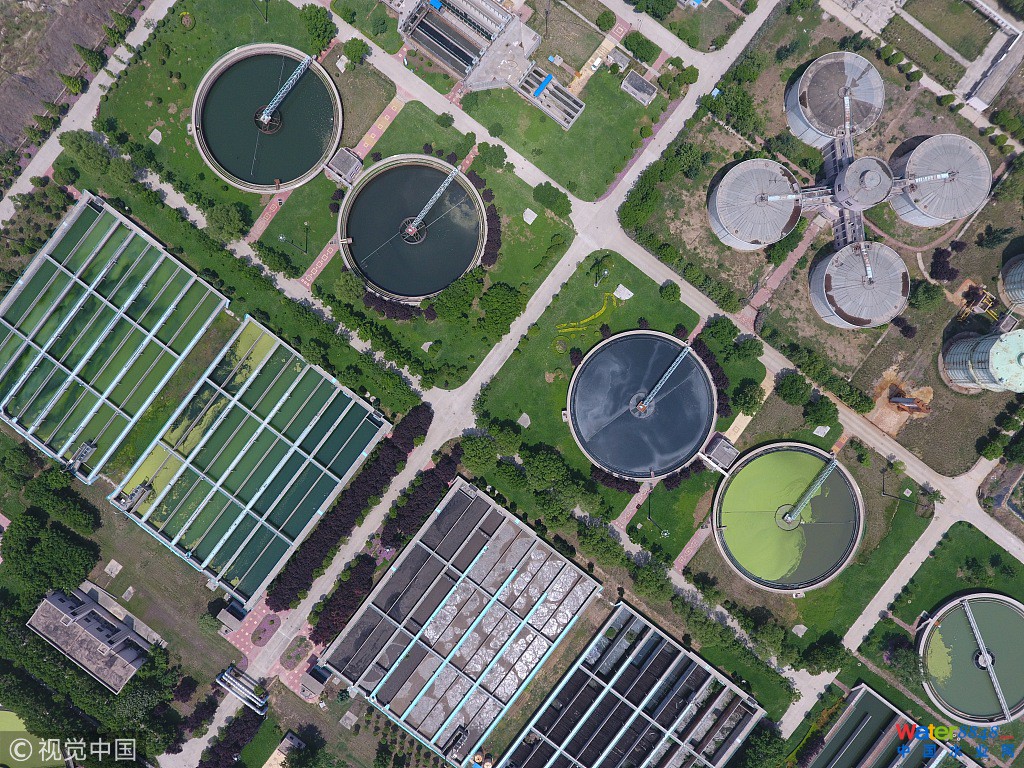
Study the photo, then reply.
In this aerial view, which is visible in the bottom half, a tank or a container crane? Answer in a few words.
tank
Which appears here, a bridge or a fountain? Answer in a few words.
bridge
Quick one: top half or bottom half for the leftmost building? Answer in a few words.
bottom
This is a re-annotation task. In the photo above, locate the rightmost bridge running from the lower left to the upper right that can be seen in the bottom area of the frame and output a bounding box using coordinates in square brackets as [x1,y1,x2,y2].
[777,454,839,522]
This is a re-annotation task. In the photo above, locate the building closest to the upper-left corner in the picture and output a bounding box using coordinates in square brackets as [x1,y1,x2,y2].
[330,148,364,183]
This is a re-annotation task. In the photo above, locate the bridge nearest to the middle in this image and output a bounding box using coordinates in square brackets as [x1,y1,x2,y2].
[634,343,693,412]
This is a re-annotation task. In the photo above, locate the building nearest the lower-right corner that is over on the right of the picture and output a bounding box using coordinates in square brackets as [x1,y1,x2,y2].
[706,439,740,468]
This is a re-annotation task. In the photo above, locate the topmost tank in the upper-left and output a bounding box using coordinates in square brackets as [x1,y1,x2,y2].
[193,43,345,195]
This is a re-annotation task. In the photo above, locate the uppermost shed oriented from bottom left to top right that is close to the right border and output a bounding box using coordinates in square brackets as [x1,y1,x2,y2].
[966,33,1024,106]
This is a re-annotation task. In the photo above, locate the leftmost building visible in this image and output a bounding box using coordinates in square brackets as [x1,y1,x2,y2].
[24,576,169,695]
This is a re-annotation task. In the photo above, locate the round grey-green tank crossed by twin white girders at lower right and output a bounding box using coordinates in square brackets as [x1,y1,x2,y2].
[911,590,1024,728]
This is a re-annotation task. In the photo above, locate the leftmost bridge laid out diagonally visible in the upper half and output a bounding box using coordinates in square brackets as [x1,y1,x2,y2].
[262,54,314,128]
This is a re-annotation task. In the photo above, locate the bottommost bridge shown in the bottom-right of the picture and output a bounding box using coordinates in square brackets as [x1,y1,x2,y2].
[958,598,1012,723]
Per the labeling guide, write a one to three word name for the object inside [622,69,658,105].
building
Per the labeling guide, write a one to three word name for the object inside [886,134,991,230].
storage tank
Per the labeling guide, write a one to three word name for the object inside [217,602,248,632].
building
